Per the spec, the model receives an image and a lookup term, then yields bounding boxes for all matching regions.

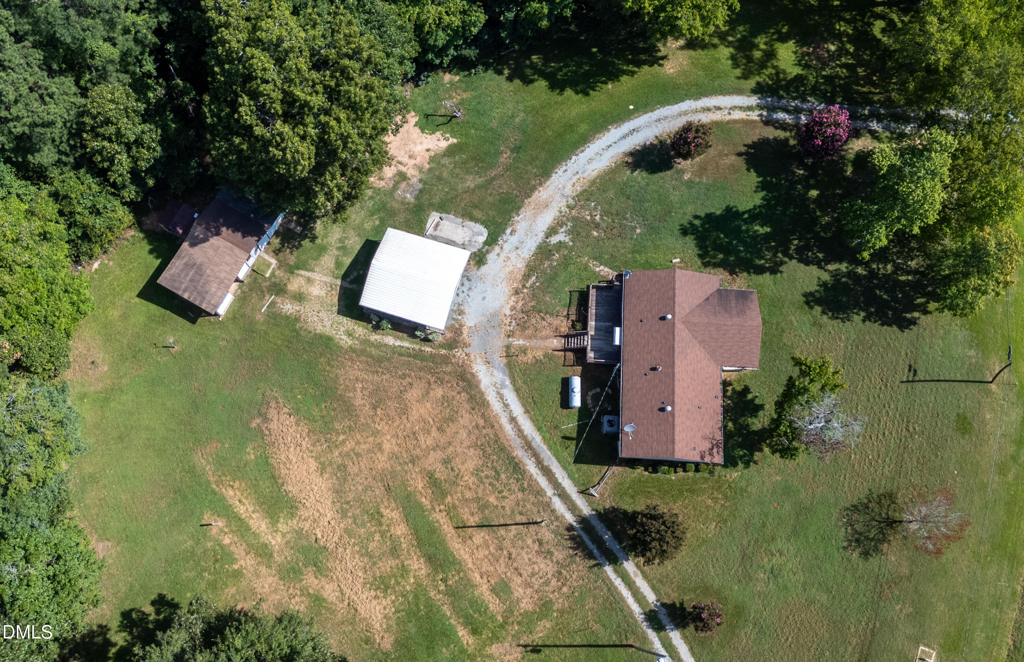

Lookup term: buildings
[358,227,472,334]
[612,269,763,465]
[157,175,297,320]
